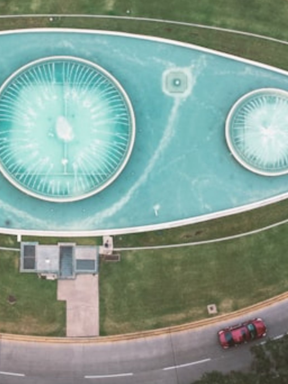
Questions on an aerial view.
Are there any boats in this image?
No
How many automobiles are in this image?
1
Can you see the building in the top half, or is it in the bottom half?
bottom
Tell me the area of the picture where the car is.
bottom right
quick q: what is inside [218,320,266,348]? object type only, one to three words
car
